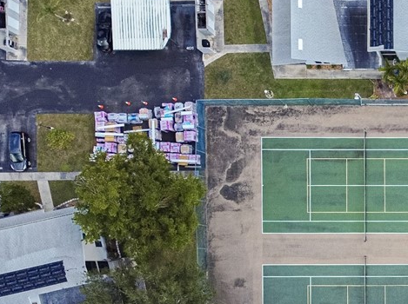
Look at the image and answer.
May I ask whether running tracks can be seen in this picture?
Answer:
No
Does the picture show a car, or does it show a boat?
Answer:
car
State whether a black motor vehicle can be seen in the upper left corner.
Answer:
Yes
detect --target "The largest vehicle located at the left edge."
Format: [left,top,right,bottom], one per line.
[4,131,28,171]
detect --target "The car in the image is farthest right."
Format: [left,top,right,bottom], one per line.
[94,9,114,52]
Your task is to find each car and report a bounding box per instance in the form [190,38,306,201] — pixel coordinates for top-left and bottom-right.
[94,9,114,52]
[4,131,28,171]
